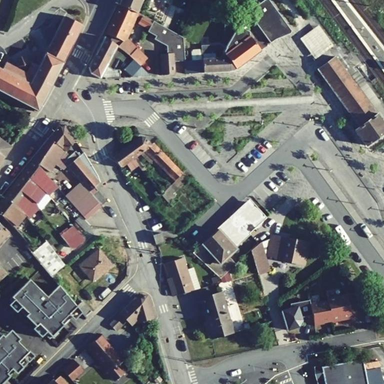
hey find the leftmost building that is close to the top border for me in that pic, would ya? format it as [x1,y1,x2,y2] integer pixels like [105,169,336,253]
[0,16,84,110]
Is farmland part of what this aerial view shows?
No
